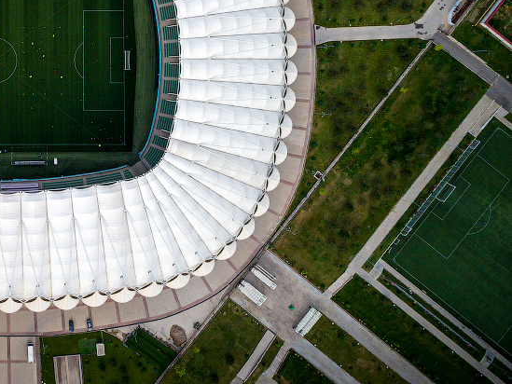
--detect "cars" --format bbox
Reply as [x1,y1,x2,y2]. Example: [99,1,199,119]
[69,323,74,334]
[87,321,92,333]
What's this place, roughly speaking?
sports ground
